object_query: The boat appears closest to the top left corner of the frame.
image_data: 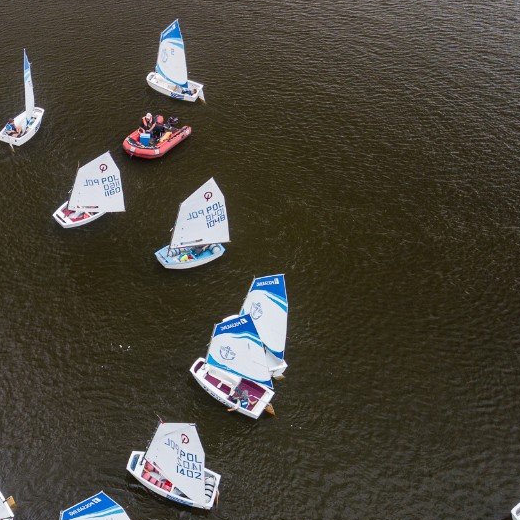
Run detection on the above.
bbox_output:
[0,48,45,151]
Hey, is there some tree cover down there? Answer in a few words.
No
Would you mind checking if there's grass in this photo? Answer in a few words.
No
